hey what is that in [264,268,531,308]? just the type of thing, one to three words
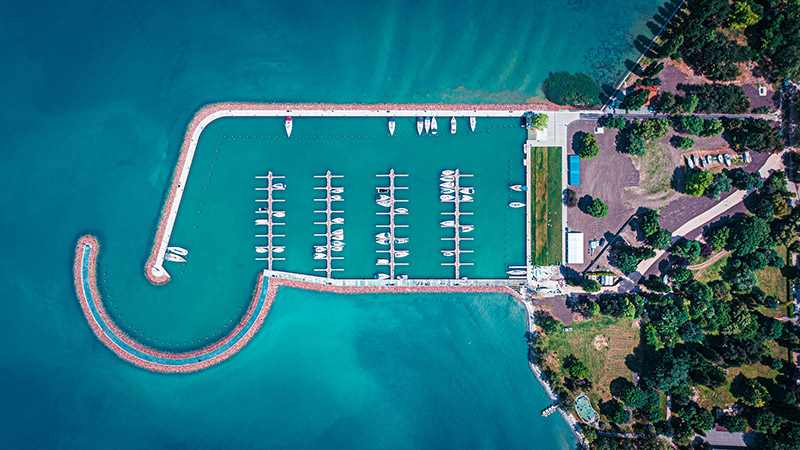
pier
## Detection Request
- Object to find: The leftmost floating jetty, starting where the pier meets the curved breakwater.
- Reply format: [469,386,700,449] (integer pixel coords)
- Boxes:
[255,171,285,269]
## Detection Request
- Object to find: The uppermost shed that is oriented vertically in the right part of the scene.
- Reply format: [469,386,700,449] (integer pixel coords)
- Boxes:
[566,155,580,186]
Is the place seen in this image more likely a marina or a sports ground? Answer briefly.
marina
